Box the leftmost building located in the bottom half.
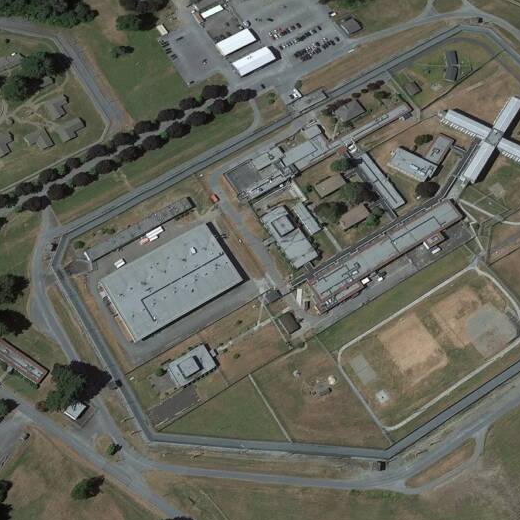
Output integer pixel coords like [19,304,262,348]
[0,339,44,384]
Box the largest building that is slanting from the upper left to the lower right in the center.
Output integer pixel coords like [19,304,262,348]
[260,206,317,268]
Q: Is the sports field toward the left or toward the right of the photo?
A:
right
